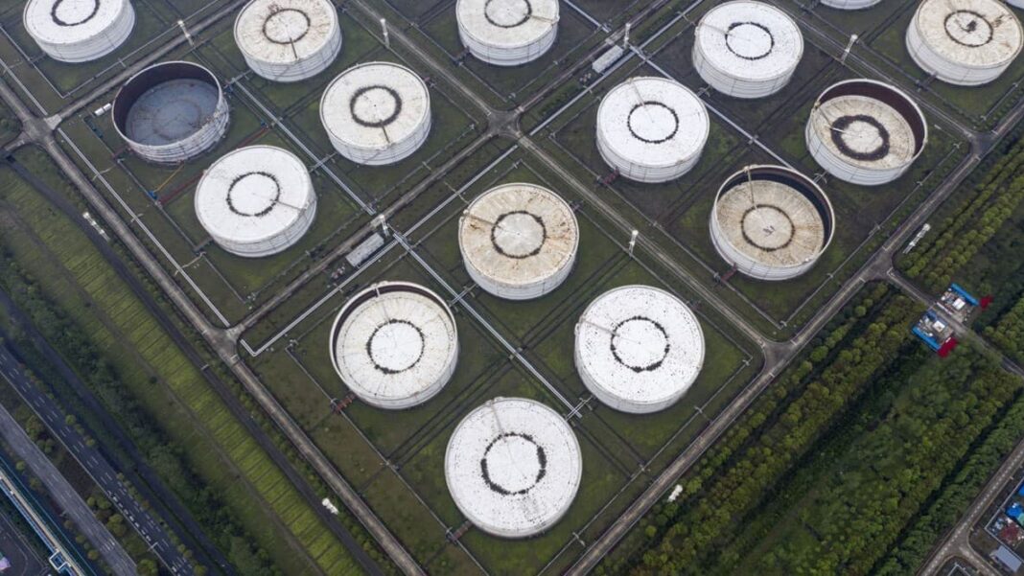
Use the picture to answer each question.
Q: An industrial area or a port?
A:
industrial area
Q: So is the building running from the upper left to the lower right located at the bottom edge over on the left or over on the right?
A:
right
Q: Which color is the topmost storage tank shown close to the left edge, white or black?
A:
white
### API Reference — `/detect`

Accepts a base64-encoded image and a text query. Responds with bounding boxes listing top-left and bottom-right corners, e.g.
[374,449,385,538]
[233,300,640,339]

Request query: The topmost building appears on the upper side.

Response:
[591,41,626,72]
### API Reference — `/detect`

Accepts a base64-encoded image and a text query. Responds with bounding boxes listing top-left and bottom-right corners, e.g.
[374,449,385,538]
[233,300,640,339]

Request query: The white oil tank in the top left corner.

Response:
[21,0,138,64]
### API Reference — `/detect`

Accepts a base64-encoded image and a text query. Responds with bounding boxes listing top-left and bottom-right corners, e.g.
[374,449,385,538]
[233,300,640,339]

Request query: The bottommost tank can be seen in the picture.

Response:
[444,395,584,542]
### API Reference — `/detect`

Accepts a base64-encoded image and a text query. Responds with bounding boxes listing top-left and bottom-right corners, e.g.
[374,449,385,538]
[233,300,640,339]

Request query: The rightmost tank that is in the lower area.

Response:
[572,283,707,416]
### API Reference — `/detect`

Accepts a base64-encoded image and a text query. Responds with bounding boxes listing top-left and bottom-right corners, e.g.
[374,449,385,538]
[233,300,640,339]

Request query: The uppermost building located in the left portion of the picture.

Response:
[345,230,386,266]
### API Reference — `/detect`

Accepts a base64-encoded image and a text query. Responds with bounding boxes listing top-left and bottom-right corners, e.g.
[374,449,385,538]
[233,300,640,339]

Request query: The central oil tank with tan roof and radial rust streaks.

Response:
[457,181,580,302]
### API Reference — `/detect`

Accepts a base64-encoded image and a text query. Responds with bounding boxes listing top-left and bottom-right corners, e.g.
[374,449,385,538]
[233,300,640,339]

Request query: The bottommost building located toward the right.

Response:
[993,543,1024,572]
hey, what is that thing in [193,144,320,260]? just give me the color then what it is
white storage tank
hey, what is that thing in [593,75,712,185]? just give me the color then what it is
white storage tank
